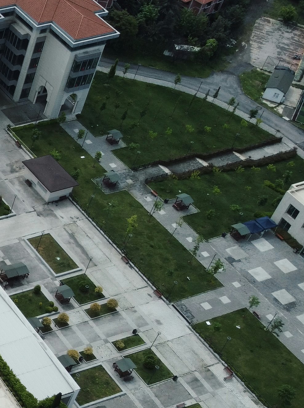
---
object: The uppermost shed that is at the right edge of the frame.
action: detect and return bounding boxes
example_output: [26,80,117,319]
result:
[263,60,299,103]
